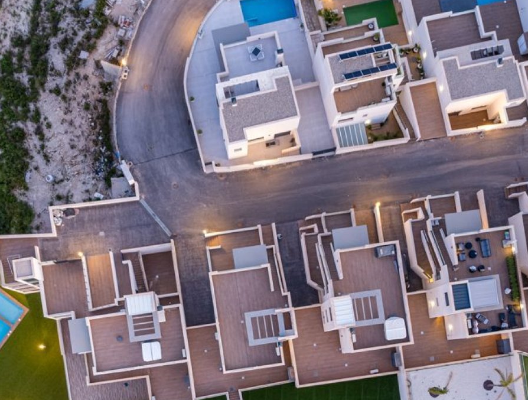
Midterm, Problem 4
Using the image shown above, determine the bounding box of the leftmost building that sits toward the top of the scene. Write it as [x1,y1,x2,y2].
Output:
[213,23,301,157]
